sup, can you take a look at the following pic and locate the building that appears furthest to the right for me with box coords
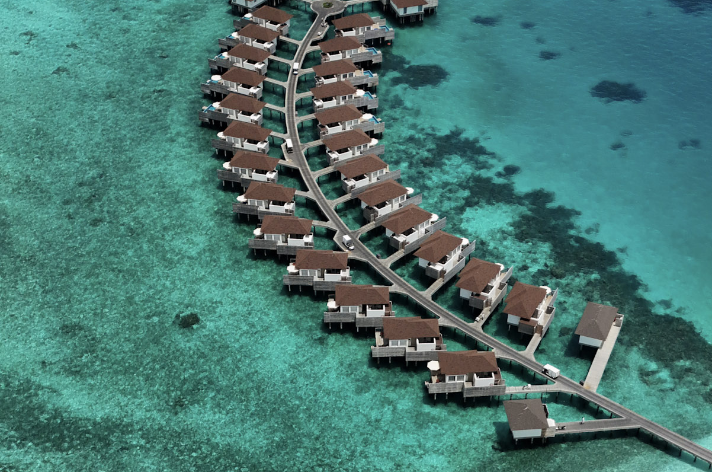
[572,301,622,366]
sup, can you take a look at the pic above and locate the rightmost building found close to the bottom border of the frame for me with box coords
[502,398,557,457]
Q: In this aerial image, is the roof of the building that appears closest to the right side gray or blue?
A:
gray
